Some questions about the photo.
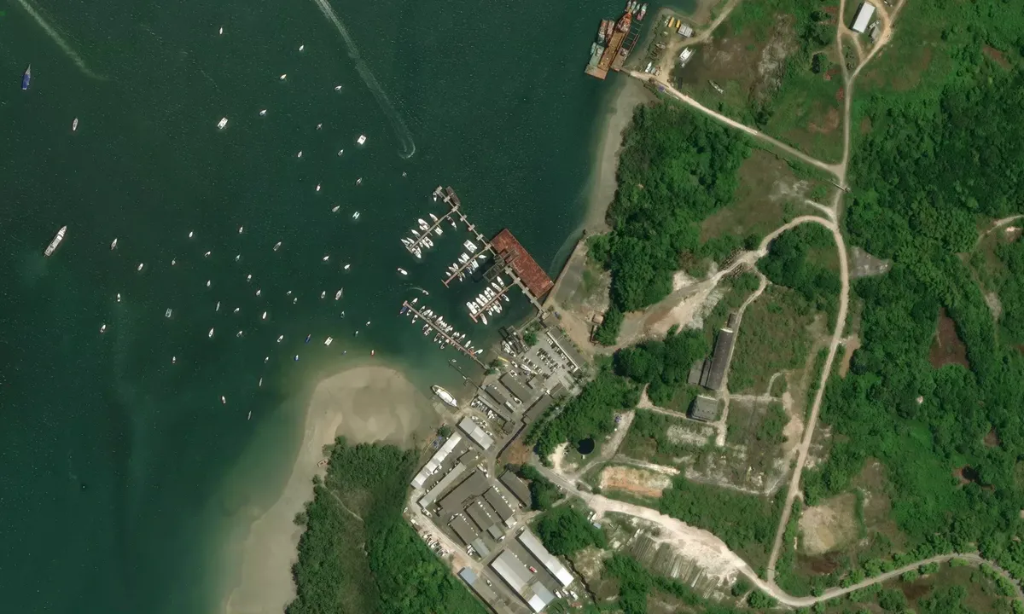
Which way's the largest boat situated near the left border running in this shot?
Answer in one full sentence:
In this picture, the largest boat situated near the left border is oriented diagonally.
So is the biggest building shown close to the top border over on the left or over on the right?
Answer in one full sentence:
The biggest building shown close to the top border is on the right side of the image.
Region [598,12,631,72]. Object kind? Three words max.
ship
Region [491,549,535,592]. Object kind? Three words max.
building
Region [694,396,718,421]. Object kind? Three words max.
building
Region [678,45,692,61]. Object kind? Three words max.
boat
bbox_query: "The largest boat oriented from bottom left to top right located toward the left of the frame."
[43,227,66,255]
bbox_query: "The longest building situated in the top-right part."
[853,1,875,32]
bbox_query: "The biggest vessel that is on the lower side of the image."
[431,386,458,408]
